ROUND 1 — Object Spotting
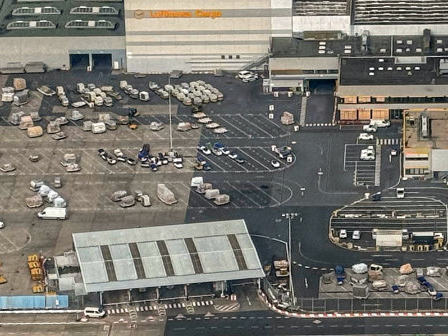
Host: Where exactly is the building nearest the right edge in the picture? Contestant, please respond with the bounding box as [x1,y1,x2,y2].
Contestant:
[402,103,448,180]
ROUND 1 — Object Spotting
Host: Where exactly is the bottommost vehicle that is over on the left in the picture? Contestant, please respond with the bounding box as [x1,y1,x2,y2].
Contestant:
[81,306,106,318]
